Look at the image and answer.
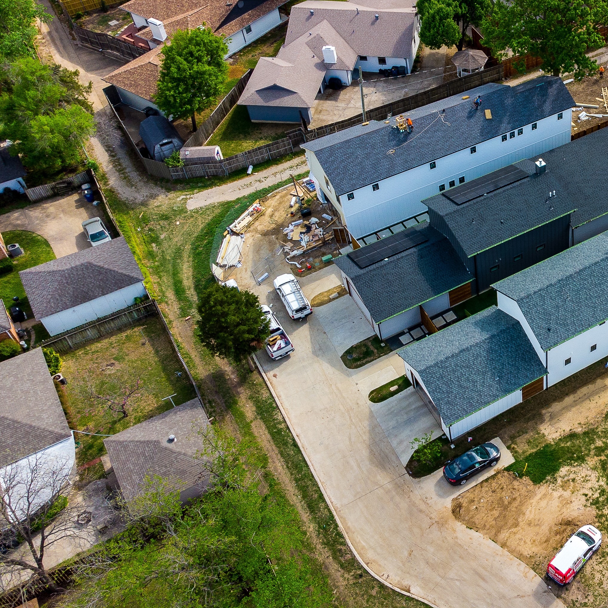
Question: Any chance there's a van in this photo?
Yes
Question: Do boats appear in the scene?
No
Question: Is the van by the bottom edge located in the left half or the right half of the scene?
right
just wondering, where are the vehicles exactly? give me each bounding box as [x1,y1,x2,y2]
[268,269,313,321]
[546,525,602,587]
[440,440,503,486]
[257,303,294,360]
[82,217,112,247]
